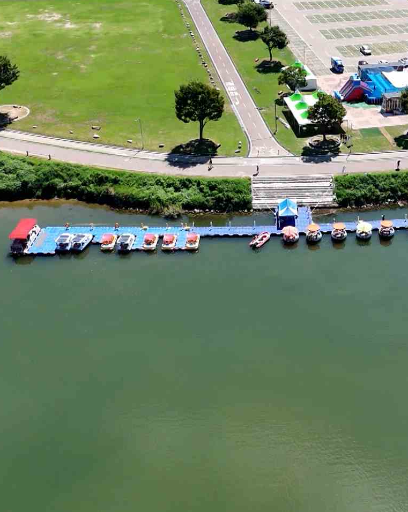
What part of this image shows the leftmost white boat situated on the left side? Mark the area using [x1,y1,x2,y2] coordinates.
[22,228,44,251]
